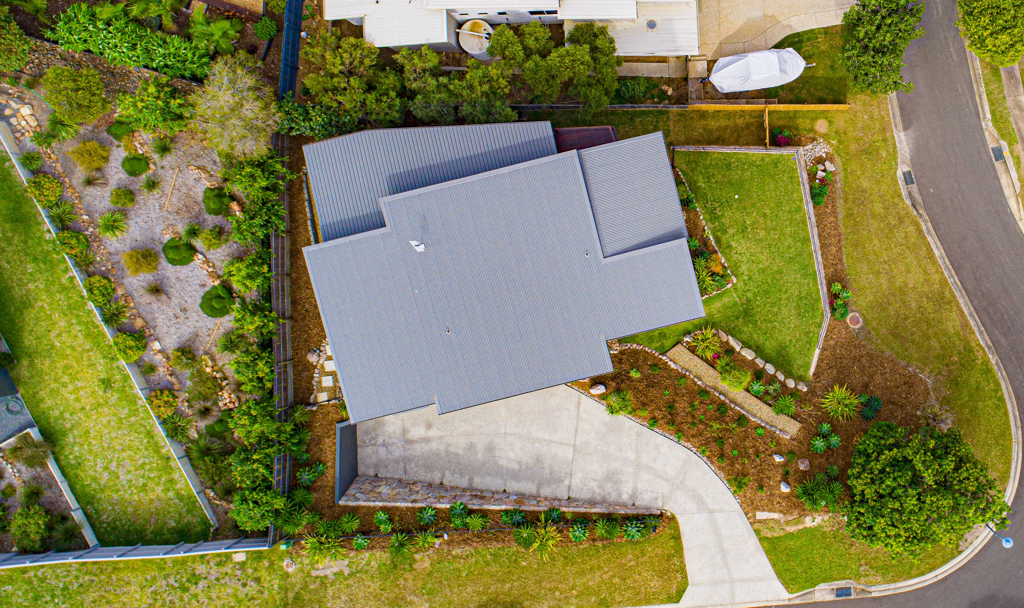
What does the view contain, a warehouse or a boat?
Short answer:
boat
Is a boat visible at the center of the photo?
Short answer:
No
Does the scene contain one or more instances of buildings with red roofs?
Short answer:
No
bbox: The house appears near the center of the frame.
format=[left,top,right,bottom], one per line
[302,119,706,427]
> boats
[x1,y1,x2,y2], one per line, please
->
[699,48,817,94]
